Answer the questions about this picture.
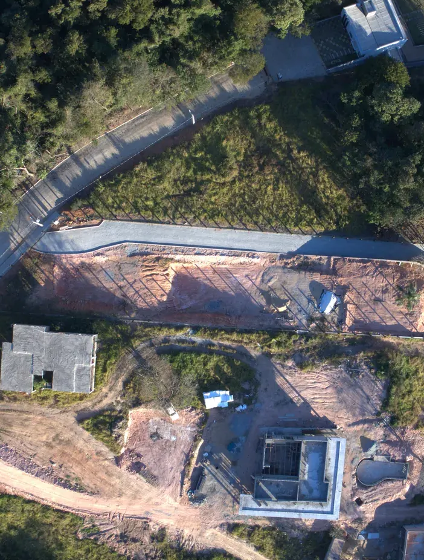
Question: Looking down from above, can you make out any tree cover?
Yes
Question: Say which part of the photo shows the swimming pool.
bottom right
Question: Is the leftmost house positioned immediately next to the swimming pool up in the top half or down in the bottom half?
bottom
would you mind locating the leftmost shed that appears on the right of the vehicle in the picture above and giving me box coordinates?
[203,391,234,408]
